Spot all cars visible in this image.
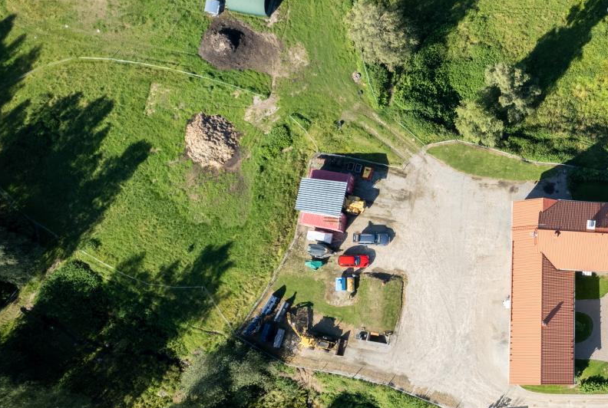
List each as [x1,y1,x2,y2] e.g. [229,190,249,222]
[350,230,392,247]
[338,253,372,269]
